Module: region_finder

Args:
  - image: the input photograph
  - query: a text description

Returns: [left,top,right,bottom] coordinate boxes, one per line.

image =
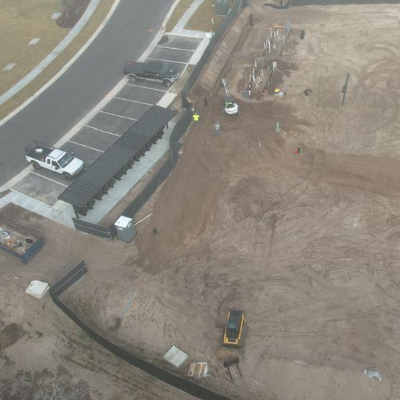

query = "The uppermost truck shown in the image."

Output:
[122,62,181,86]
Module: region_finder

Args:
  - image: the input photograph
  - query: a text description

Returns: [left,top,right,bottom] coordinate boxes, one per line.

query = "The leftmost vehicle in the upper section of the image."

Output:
[23,142,86,177]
